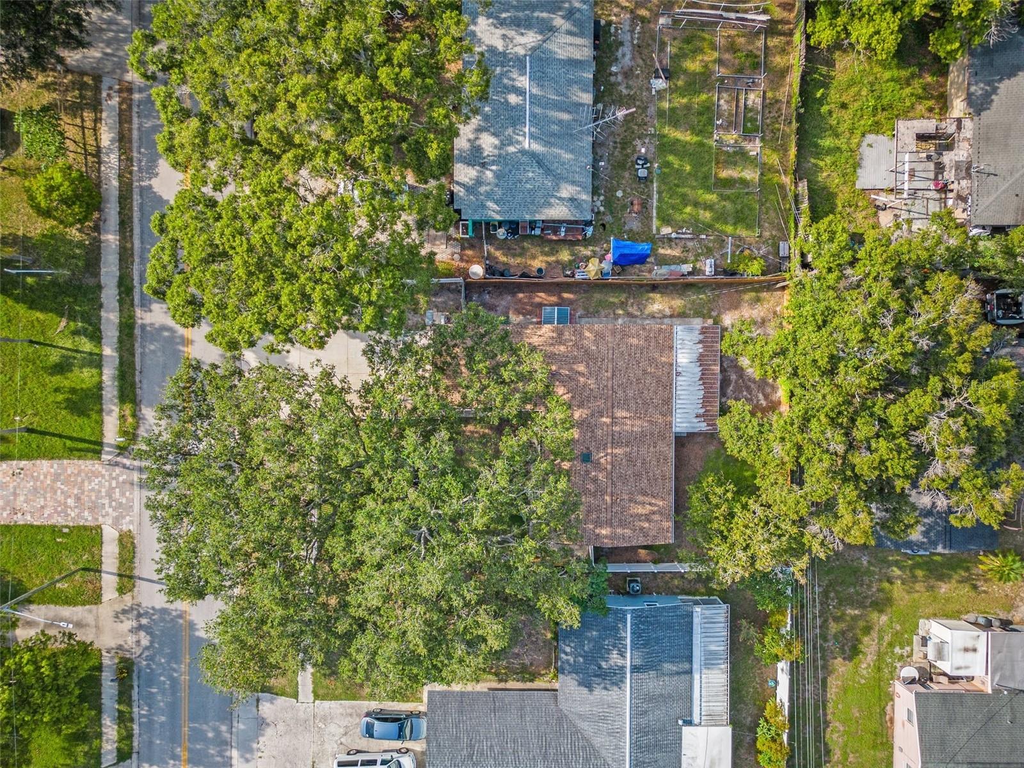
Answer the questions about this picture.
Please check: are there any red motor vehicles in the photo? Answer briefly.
No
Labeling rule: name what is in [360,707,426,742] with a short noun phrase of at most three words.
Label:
car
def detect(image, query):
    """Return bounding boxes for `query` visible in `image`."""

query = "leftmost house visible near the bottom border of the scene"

[424,594,734,768]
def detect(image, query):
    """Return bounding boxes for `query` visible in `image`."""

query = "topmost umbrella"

[586,258,604,281]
